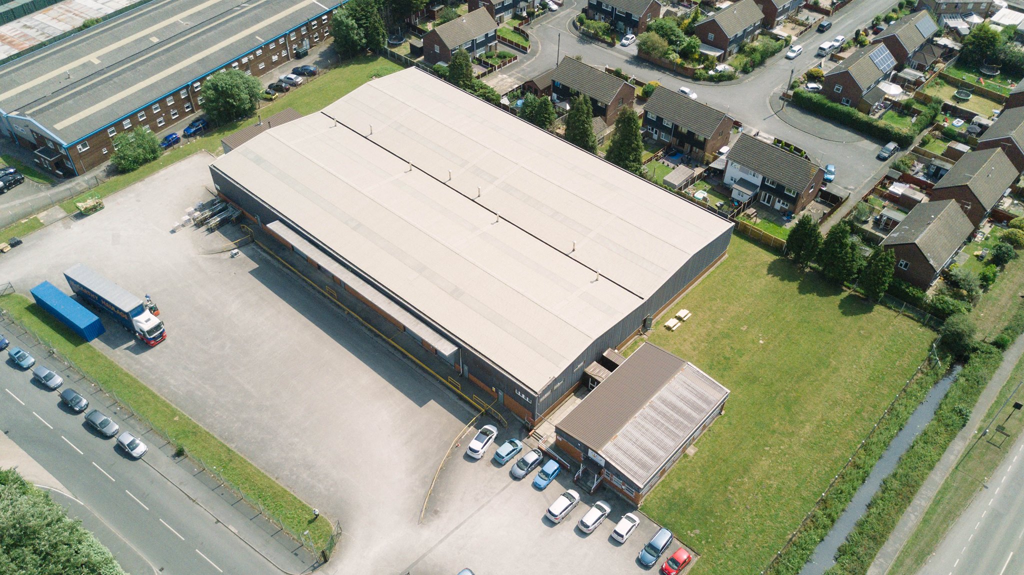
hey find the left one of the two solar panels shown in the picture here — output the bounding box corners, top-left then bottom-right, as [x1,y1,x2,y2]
[865,45,893,71]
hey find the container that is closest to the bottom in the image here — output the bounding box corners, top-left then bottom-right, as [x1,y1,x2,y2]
[30,281,106,342]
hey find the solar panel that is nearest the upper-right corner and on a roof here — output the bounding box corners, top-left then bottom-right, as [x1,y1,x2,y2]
[912,12,936,37]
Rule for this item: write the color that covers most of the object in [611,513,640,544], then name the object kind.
white car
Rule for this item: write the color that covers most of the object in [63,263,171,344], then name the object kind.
white truck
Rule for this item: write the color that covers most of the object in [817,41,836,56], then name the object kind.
gray vehicle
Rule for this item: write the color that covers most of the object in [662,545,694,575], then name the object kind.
red car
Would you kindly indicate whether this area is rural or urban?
urban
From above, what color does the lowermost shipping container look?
blue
